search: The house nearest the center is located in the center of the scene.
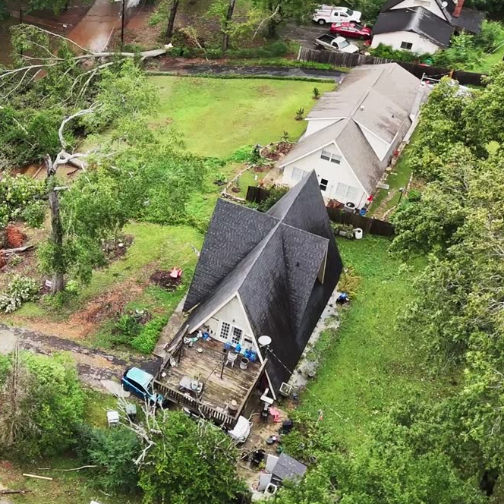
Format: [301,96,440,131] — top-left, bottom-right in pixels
[179,167,345,396]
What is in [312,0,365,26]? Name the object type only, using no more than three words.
truck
